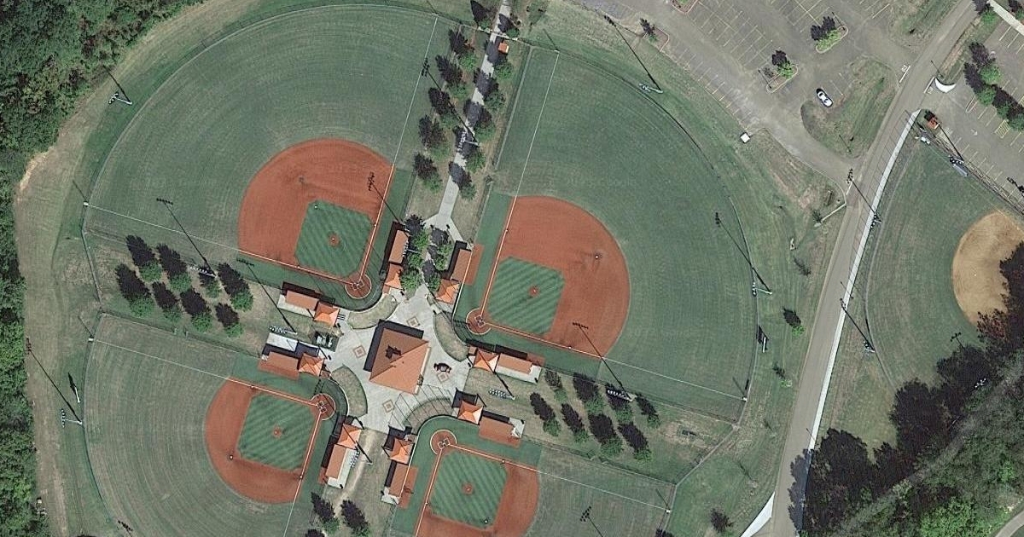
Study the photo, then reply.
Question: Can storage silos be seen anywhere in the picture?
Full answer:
No, the frame has no storage silo in it.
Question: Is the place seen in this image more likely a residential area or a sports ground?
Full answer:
It's a sports ground.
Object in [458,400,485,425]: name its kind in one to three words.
building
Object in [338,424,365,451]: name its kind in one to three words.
building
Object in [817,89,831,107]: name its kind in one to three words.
car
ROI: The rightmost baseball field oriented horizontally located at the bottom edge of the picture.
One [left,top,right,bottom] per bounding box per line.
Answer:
[384,412,673,537]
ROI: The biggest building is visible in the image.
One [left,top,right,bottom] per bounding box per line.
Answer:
[369,328,430,394]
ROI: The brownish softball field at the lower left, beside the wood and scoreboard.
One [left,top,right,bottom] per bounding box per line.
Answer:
[85,310,347,537]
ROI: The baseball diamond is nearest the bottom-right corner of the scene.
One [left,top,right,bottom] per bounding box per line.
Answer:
[868,140,1024,432]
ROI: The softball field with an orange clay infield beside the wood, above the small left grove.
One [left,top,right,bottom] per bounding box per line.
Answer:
[84,5,459,312]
